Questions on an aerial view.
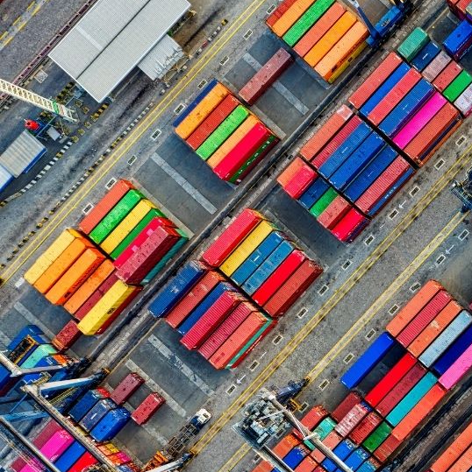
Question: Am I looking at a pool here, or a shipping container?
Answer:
shipping container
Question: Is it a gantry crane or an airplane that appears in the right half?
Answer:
gantry crane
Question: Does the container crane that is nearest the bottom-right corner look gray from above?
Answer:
Yes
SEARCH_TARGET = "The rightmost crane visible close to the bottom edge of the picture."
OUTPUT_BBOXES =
[225,374,401,472]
